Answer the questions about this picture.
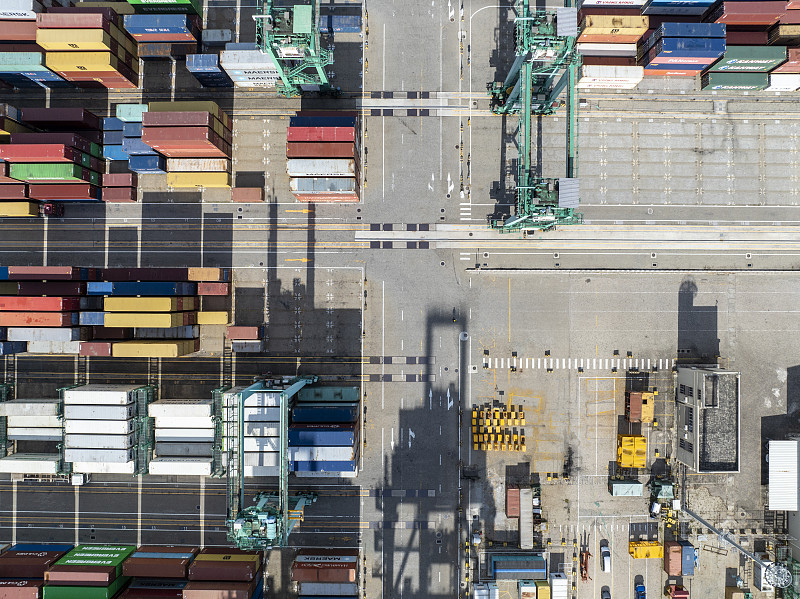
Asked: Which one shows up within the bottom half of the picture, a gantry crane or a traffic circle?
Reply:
gantry crane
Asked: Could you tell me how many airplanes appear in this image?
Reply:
0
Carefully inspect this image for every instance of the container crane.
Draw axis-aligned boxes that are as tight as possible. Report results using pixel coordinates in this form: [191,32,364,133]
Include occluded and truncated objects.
[223,369,318,555]
[492,58,591,231]
[492,0,588,99]
[250,0,342,98]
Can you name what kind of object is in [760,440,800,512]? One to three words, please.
shed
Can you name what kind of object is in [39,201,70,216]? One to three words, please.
vehicle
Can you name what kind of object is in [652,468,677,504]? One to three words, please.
work vehicle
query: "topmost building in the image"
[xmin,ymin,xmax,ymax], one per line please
[676,369,741,476]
